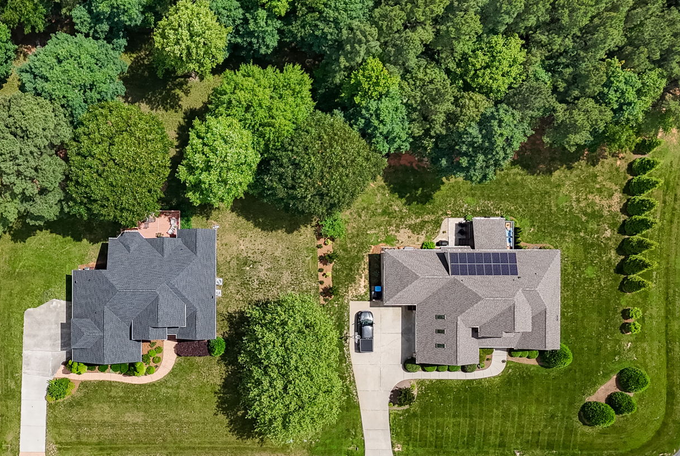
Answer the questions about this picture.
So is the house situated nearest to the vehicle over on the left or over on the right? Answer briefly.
right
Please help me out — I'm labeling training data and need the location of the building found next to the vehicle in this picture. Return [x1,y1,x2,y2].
[379,218,561,367]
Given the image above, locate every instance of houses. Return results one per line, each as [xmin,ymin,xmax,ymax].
[69,227,217,365]
[379,218,561,367]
